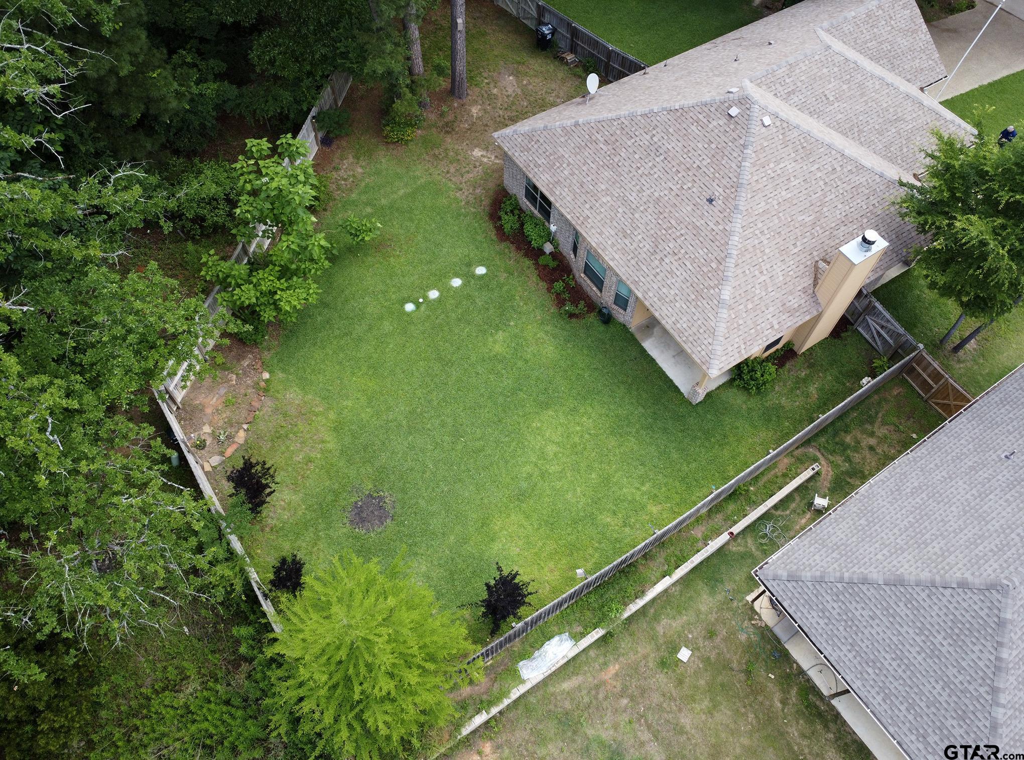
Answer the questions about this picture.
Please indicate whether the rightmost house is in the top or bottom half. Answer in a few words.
bottom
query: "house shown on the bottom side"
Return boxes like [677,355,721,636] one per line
[749,366,1024,760]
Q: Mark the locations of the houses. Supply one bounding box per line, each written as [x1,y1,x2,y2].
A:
[496,0,989,404]
[749,366,1024,760]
